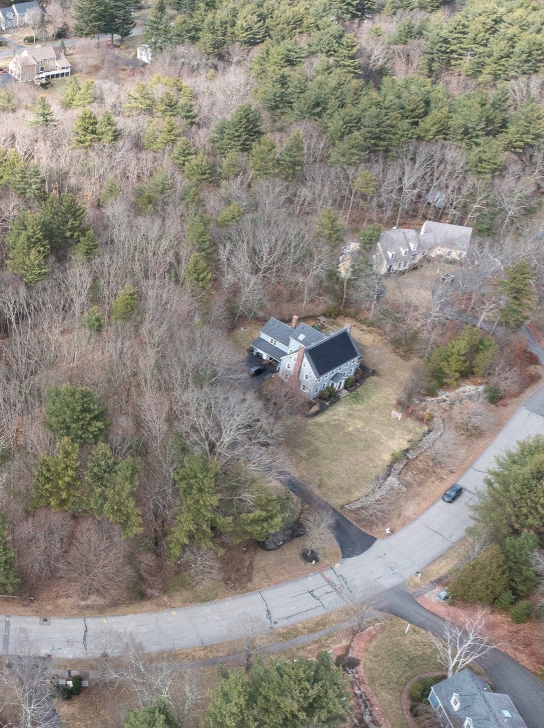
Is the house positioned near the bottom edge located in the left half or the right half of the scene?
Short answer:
right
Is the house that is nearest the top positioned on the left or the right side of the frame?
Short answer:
left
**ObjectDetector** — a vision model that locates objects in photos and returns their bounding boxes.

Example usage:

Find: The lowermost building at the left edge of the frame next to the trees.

[16,42,71,80]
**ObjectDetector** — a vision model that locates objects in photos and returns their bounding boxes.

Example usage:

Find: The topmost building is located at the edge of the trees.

[0,0,46,28]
